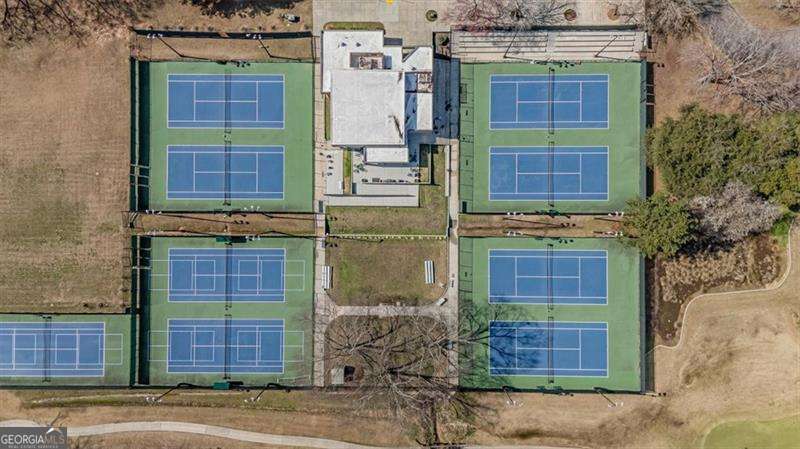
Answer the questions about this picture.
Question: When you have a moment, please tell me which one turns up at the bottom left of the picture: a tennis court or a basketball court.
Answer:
tennis court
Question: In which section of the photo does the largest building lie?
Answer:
top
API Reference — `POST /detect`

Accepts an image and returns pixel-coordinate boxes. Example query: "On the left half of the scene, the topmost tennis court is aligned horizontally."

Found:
[136,62,313,137]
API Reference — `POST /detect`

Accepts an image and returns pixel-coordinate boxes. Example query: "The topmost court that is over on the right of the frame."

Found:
[460,62,641,137]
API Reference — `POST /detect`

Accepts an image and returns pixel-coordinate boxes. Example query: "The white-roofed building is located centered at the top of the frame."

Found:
[320,31,432,165]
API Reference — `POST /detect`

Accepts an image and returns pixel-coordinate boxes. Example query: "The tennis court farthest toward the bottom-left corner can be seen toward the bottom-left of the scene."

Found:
[0,315,131,386]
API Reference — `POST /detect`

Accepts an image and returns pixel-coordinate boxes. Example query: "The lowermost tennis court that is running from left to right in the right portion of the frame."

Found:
[460,312,641,389]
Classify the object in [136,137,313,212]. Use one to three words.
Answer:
tennis court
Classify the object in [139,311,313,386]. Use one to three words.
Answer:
tennis court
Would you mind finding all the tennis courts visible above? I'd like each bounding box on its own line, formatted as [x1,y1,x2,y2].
[136,62,313,137]
[460,62,641,137]
[139,311,313,386]
[136,238,313,311]
[0,315,131,386]
[460,137,641,212]
[136,137,313,212]
[460,238,641,312]
[460,312,641,389]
